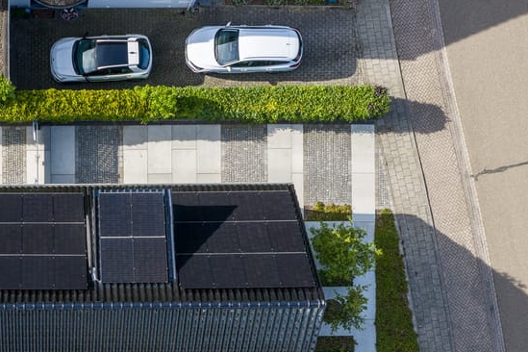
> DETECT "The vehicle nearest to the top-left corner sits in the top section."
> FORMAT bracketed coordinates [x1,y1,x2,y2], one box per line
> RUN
[50,28,151,85]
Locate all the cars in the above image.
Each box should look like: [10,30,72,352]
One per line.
[50,28,151,85]
[185,18,302,76]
